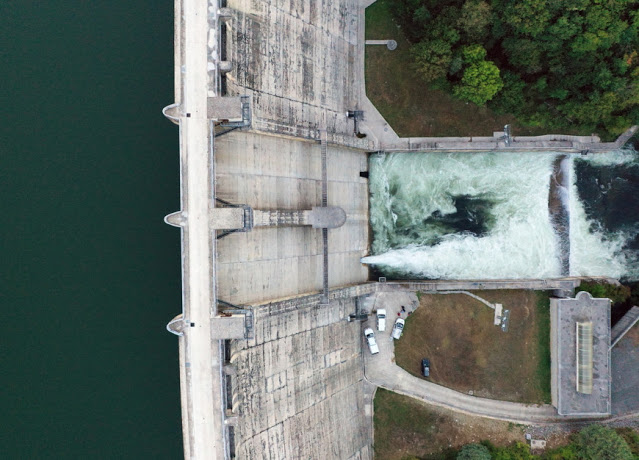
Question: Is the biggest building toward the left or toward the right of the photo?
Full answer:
The biggest building sits on the right side.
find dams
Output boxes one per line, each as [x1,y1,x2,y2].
[162,0,370,460]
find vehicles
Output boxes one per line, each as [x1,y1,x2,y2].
[364,328,378,355]
[391,316,406,341]
[421,356,432,378]
[376,308,387,331]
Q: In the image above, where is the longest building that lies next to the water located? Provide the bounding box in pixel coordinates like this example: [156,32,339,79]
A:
[550,289,610,414]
